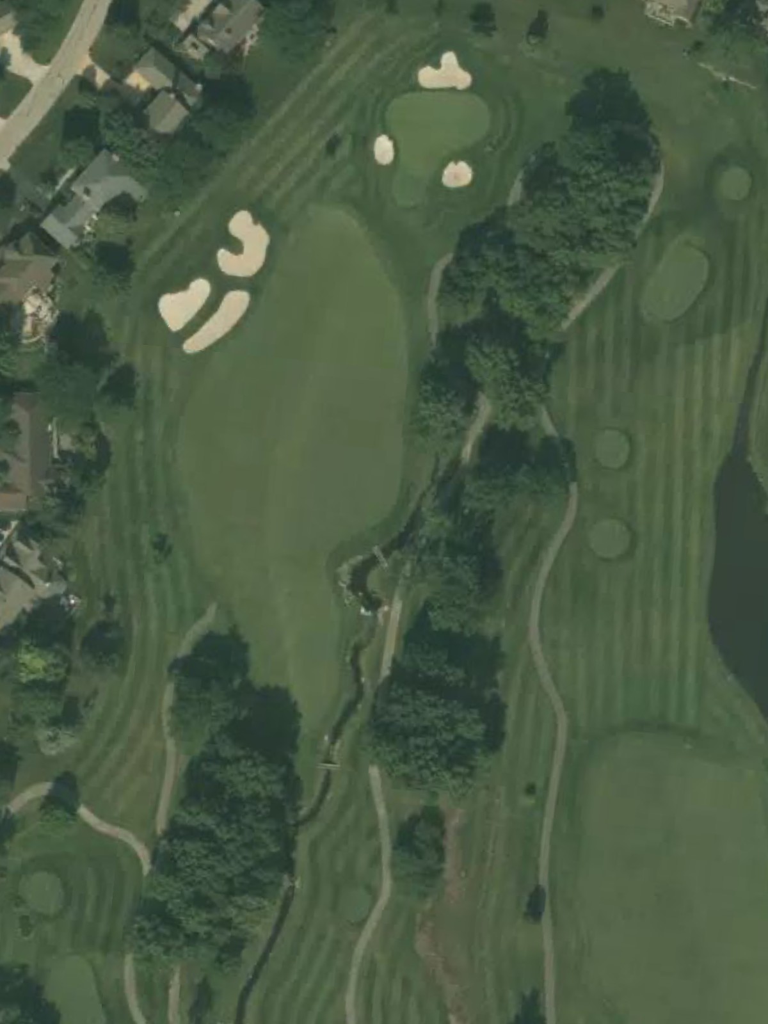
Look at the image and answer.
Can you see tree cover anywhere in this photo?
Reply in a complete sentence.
Yes, there is tree cover in the image.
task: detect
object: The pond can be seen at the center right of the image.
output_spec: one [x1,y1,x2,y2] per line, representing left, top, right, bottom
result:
[709,318,768,726]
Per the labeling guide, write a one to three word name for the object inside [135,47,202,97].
house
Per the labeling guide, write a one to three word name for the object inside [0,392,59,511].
house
